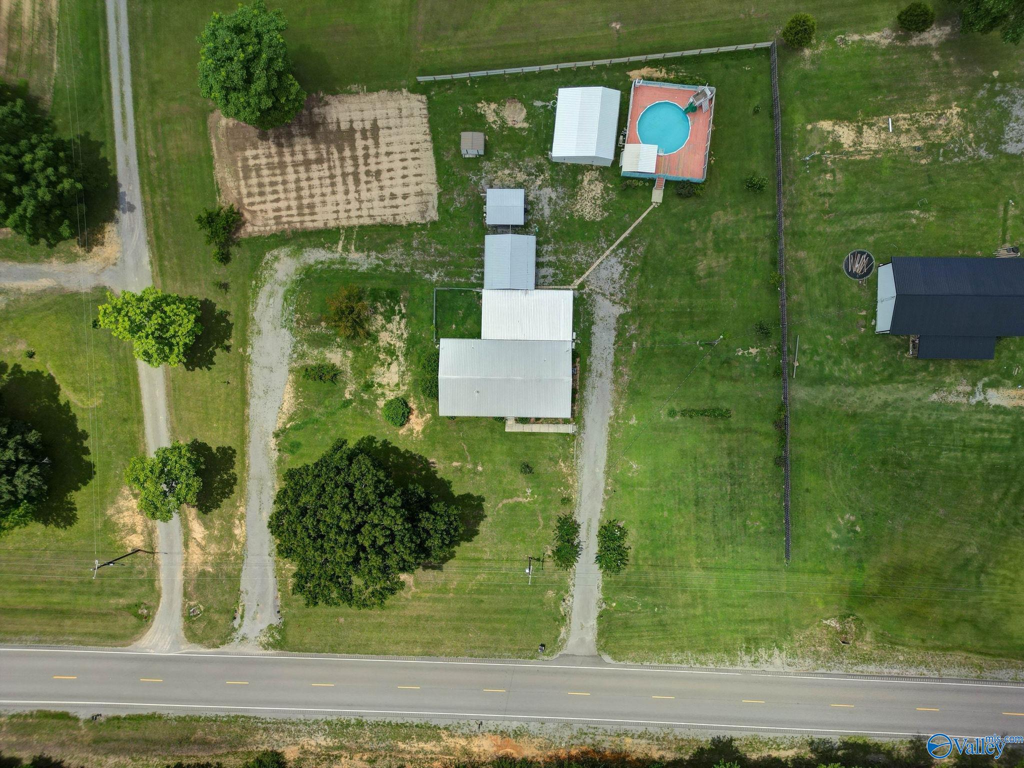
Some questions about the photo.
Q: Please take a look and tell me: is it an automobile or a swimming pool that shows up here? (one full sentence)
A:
There is a swimming pool in the scene.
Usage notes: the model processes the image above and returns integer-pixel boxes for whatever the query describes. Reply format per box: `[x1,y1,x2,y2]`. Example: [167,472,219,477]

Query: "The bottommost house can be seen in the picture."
[439,339,573,418]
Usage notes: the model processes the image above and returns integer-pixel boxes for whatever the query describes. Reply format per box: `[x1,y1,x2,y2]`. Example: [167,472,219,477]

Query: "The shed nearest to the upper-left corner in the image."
[461,131,484,157]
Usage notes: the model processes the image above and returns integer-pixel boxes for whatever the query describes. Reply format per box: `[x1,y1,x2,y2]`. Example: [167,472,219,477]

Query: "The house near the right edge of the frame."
[876,256,1024,360]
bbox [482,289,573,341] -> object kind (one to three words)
house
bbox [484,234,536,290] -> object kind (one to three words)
building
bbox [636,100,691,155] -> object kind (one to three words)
swimming pool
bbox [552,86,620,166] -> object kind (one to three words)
barn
